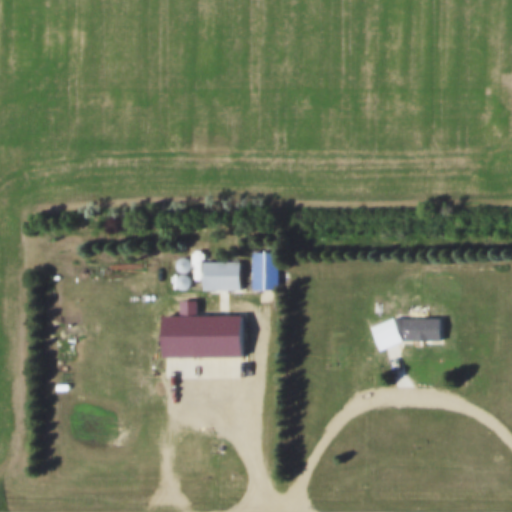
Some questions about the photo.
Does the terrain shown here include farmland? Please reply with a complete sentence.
Yes, there is farmland in the image.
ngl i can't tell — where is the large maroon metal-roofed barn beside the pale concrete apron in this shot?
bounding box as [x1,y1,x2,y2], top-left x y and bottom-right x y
[160,298,244,358]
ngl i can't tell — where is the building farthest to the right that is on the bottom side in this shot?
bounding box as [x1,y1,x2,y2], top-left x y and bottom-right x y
[398,307,442,348]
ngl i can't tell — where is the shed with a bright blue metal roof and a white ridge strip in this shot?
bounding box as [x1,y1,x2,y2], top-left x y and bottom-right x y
[252,252,279,292]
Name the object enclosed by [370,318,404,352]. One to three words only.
building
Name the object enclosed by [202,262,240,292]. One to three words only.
shed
